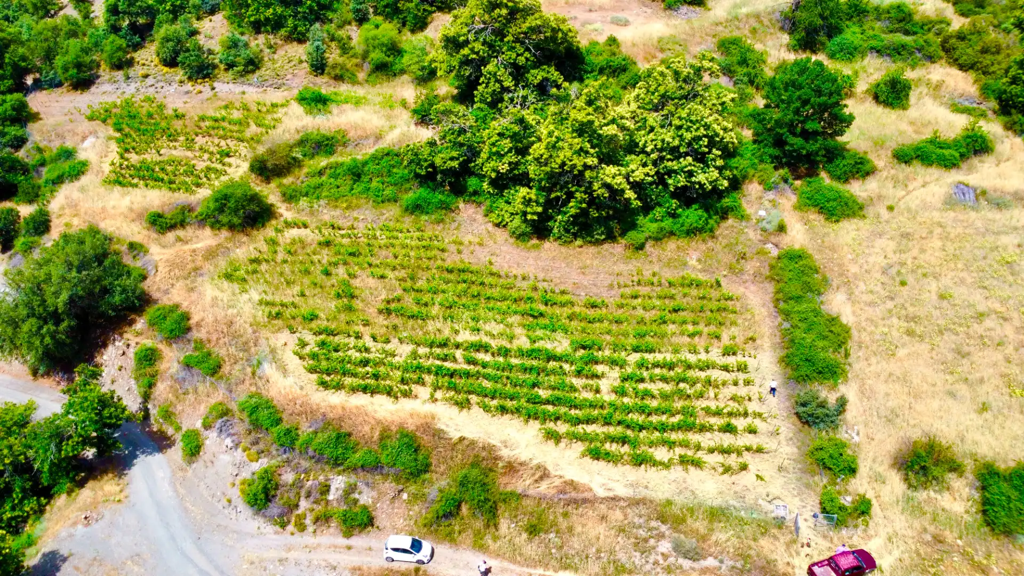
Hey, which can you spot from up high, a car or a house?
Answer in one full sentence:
I can see a car in this picture.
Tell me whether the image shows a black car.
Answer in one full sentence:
No, there is no black car in the image.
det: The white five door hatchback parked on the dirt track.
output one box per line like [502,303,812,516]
[384,533,433,564]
